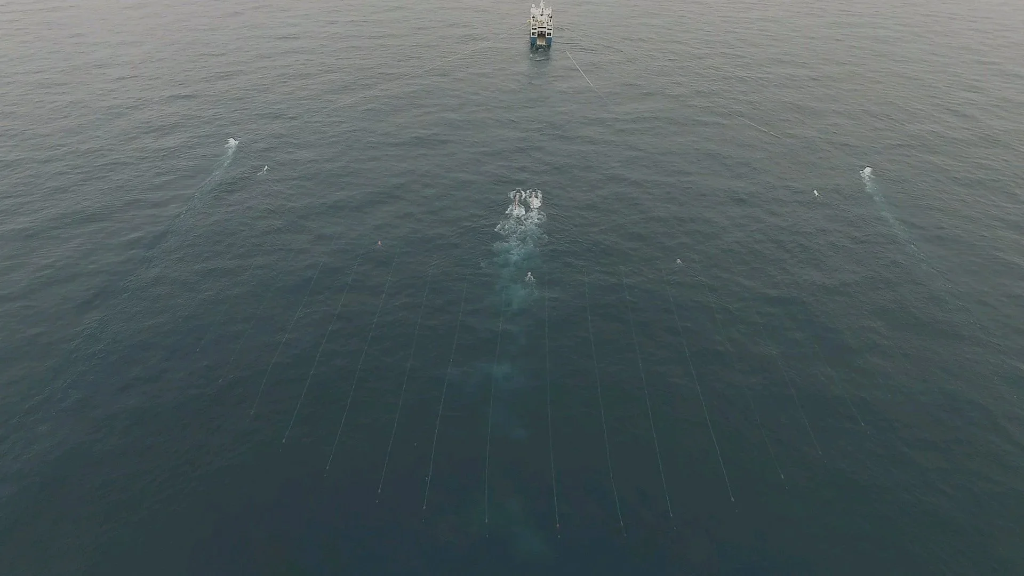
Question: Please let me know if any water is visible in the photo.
Yes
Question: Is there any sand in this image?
No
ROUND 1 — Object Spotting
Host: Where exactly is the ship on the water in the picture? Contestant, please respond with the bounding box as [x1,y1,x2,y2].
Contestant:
[527,0,554,45]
